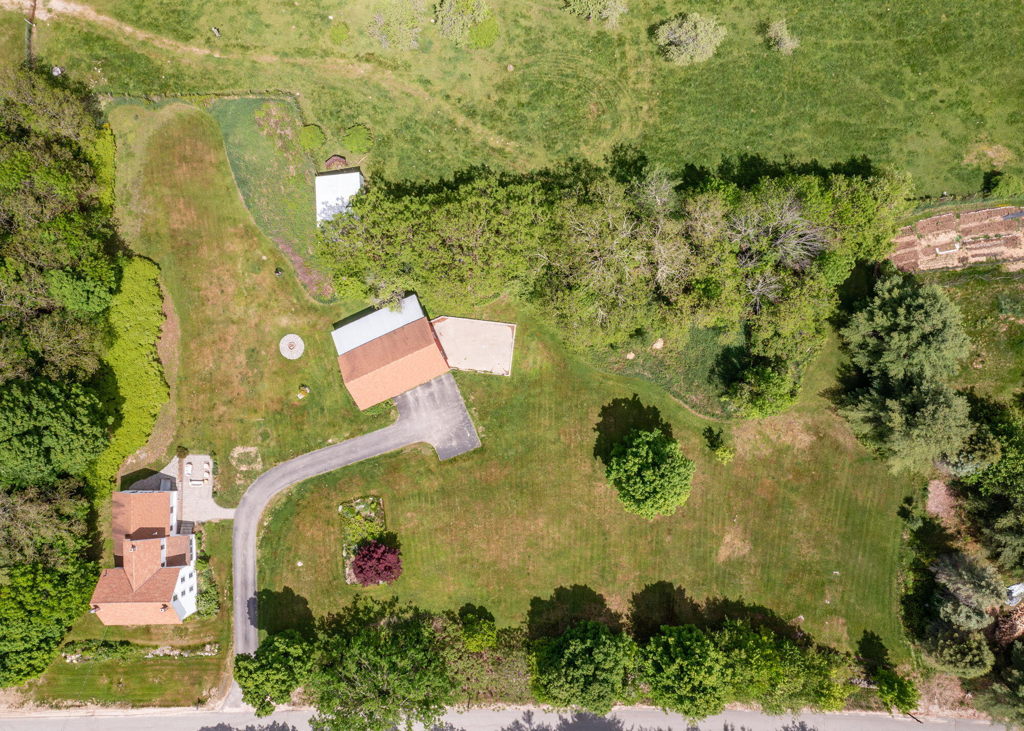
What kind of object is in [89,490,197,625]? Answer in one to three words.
house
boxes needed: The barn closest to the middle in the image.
[332,297,450,411]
